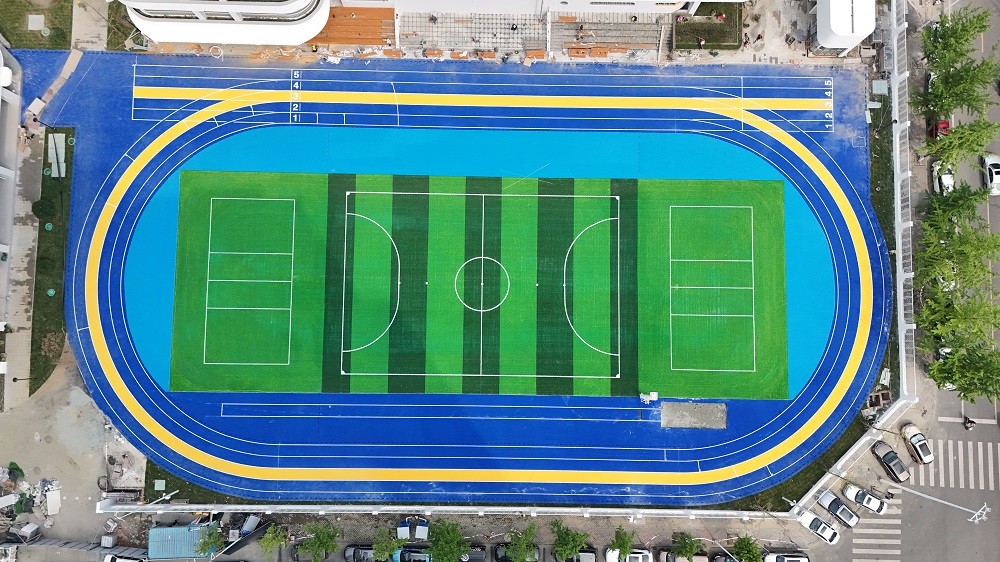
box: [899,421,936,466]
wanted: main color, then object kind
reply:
white car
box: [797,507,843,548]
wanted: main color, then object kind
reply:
white car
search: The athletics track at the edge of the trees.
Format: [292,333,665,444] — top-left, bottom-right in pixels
[17,49,891,504]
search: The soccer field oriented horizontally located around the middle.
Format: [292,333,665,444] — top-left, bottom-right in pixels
[170,163,789,400]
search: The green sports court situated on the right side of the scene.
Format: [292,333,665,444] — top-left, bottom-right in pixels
[637,178,789,399]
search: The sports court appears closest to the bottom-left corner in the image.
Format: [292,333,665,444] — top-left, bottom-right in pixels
[169,171,329,394]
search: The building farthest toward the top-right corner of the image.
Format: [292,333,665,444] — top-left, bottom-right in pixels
[810,0,877,60]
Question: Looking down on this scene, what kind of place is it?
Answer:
sports ground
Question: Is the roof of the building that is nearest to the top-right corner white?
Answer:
Yes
